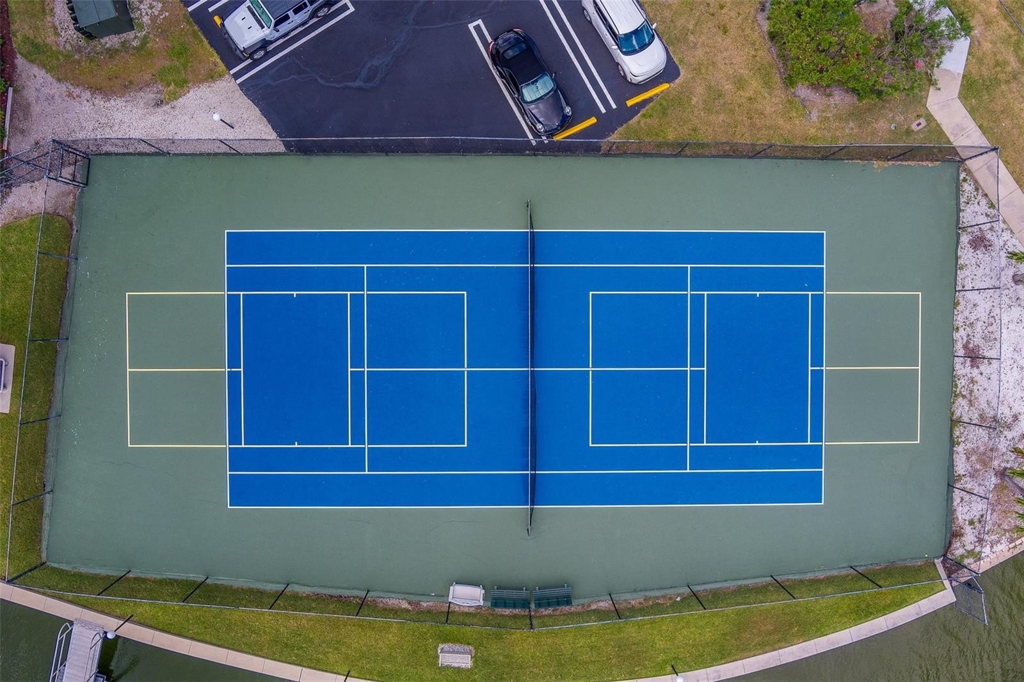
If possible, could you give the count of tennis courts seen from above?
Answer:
one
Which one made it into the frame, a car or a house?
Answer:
car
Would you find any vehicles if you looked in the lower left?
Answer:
No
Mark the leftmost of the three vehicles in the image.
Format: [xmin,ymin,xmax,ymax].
[218,0,336,64]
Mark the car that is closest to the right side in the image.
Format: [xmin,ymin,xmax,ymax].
[581,0,668,86]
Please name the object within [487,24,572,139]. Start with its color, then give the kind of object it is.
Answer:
black car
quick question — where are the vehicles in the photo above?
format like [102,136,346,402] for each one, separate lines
[218,0,336,64]
[487,24,572,139]
[581,0,668,86]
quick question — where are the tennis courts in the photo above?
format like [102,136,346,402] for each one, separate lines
[42,151,963,610]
